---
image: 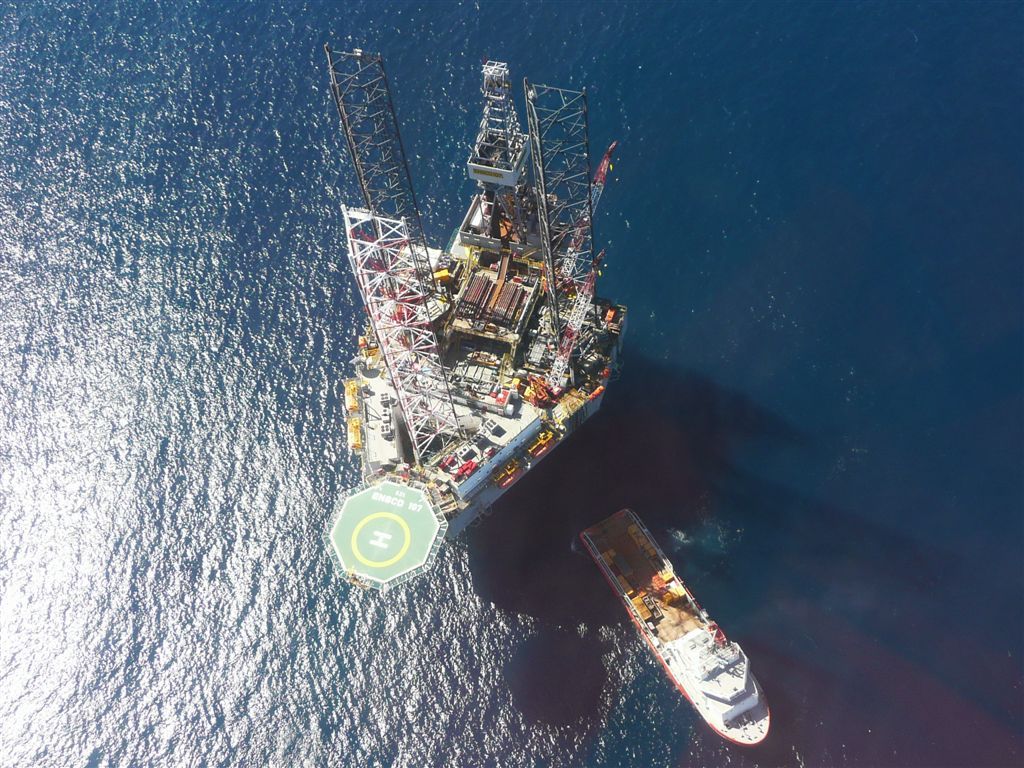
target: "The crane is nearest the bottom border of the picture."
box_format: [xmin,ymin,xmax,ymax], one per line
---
[543,247,606,410]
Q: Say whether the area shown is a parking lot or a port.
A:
port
